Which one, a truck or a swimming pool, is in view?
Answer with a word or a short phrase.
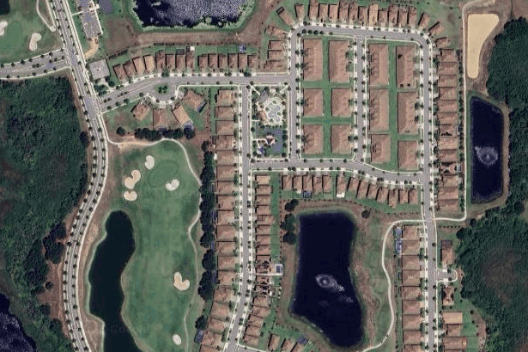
swimming pool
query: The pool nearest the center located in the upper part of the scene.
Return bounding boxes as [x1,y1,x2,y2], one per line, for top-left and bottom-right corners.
[257,96,285,125]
